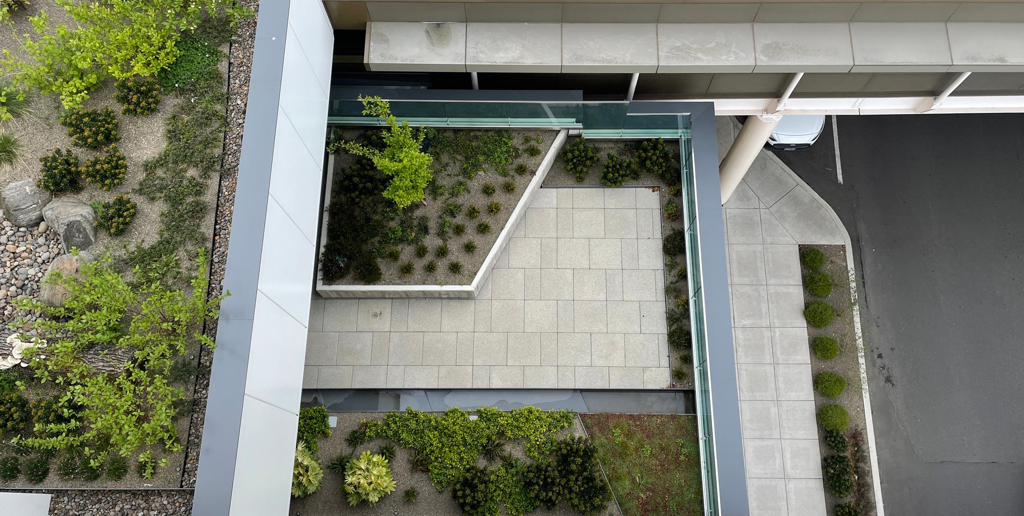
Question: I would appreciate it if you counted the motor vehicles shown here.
1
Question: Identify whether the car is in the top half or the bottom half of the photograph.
top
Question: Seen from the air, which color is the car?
white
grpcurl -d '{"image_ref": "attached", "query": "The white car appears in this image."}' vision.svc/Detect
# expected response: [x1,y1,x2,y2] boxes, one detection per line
[764,117,829,155]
